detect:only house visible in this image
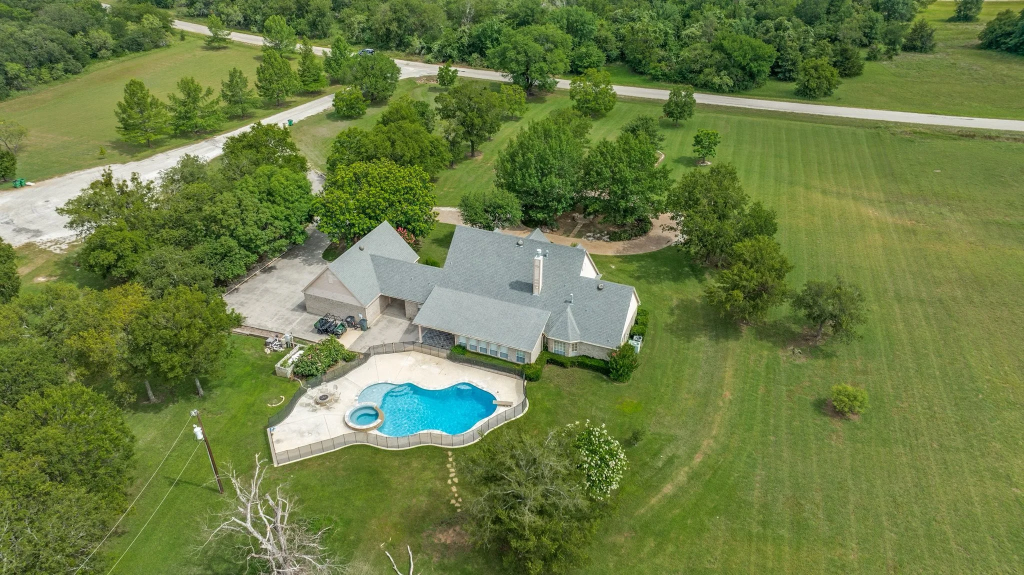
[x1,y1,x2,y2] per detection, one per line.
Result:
[300,221,640,366]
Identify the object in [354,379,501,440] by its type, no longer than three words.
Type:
swimming pool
